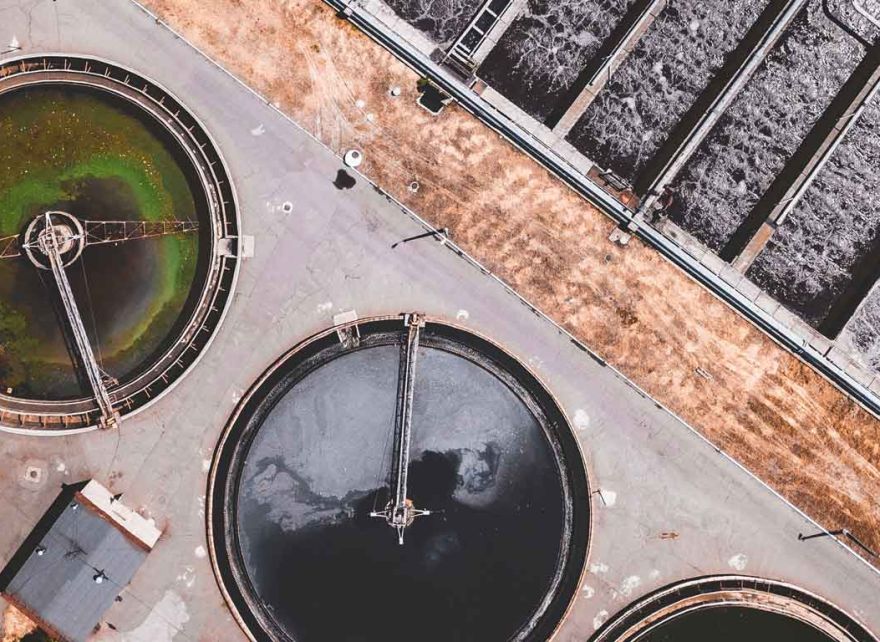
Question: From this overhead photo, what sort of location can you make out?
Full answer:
This looks like an industrial area.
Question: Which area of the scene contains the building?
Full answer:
The building appears toward the bottom left of the photo.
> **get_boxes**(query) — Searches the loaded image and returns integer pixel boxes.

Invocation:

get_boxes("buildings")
[0,480,162,642]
